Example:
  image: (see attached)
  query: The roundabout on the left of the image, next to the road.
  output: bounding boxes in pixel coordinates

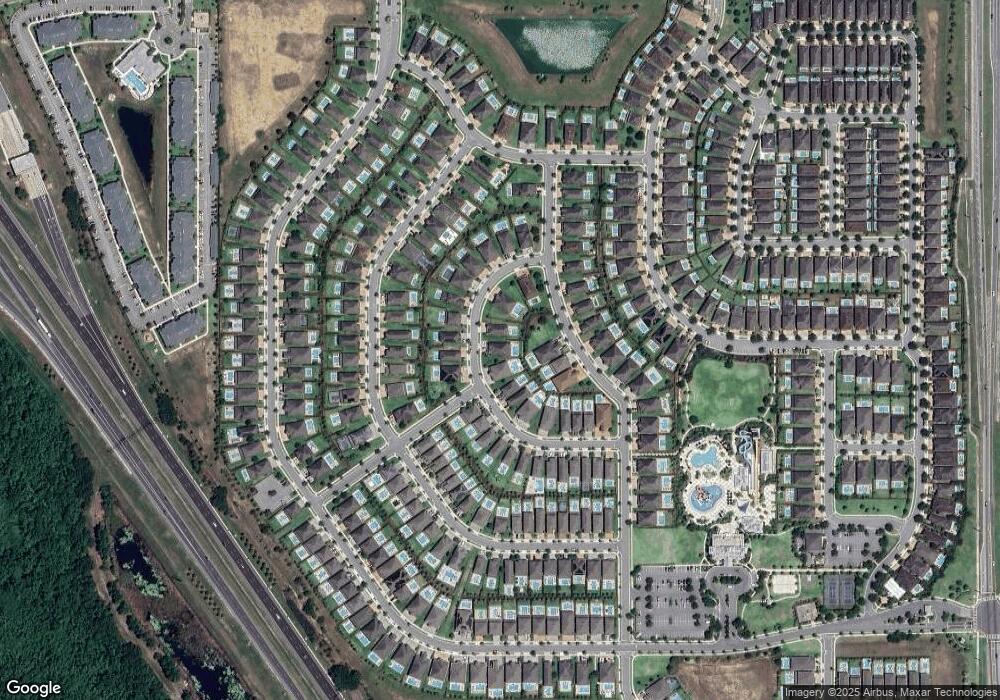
[152,24,184,56]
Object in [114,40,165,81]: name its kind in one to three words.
building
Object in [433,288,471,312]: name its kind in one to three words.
house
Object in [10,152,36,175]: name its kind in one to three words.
toll station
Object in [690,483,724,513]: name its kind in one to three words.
swimming pool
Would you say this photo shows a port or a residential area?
residential area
